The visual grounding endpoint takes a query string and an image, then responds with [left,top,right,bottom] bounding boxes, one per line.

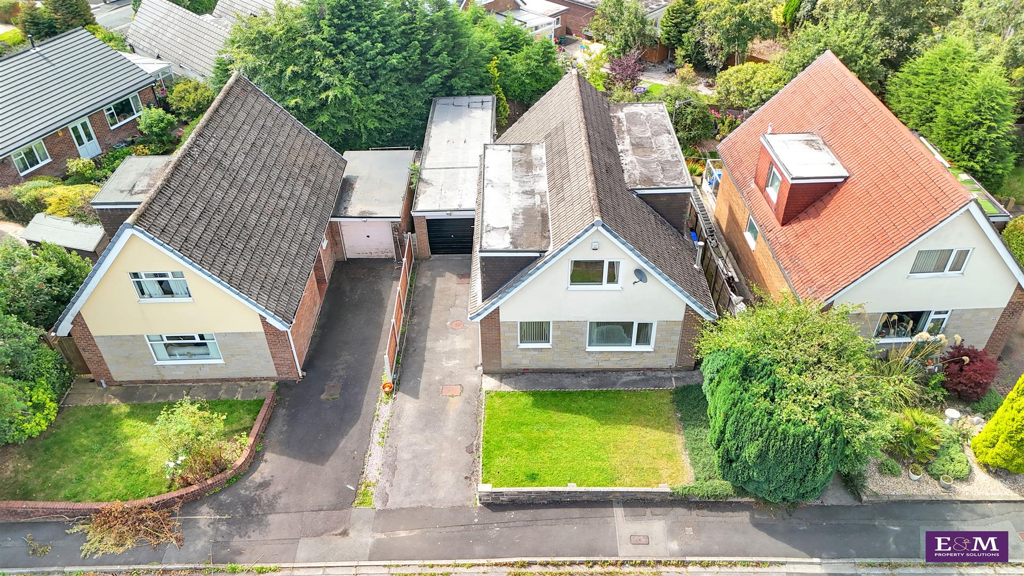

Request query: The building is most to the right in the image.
[719,52,1024,361]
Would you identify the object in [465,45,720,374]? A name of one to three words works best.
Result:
house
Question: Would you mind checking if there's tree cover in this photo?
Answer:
Yes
